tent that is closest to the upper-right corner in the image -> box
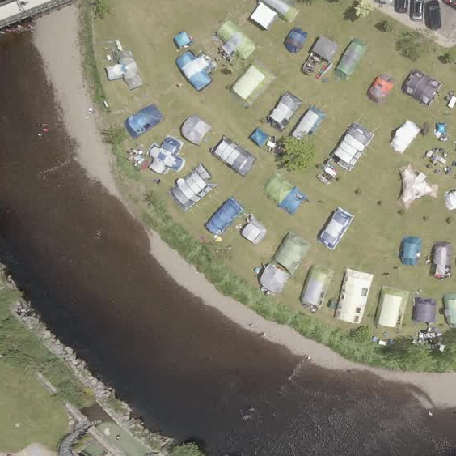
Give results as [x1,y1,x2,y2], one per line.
[399,66,449,107]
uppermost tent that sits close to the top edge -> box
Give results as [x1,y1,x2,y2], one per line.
[252,0,304,25]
